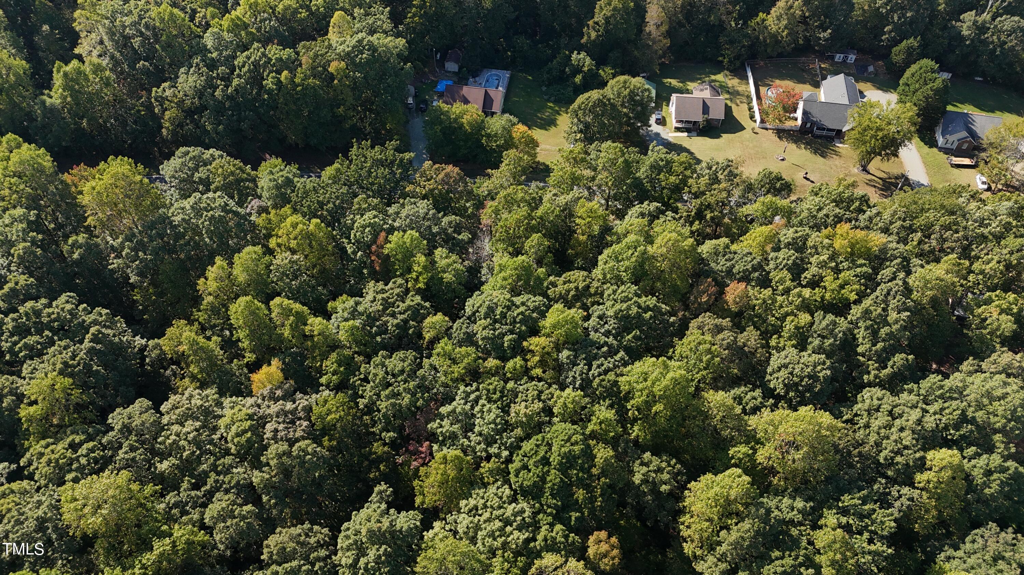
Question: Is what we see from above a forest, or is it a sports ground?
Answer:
forest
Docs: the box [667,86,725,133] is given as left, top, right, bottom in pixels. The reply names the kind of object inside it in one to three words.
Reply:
house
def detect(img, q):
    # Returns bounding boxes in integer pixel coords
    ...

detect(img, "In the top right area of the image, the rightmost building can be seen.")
[931,112,1004,153]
